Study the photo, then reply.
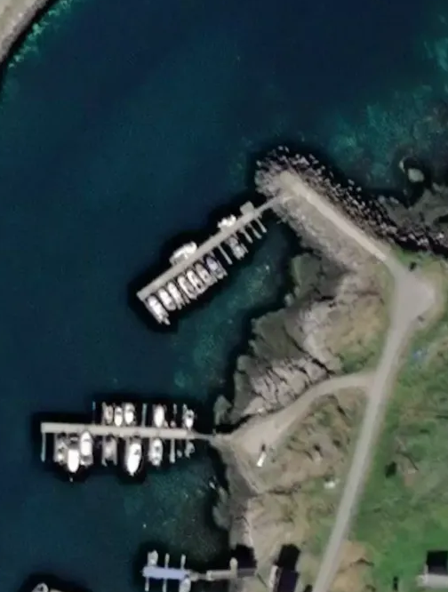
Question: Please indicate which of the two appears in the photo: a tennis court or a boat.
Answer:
boat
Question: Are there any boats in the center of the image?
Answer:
Yes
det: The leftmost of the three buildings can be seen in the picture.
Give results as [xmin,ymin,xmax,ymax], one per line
[238,561,256,578]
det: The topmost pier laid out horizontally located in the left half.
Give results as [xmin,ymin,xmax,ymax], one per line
[41,402,221,466]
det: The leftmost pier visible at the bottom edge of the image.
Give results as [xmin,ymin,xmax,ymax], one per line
[143,553,206,592]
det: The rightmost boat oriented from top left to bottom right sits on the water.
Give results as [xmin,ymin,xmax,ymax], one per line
[228,239,246,261]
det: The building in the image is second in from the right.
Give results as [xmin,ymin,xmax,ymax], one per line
[272,568,299,592]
